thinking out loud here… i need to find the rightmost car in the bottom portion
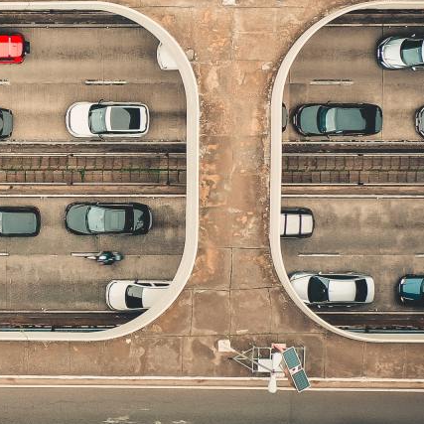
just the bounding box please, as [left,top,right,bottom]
[398,273,424,308]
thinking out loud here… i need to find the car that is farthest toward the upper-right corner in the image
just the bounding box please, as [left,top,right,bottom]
[377,31,424,73]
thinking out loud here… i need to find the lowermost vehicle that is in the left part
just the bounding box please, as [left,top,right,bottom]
[106,276,176,316]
